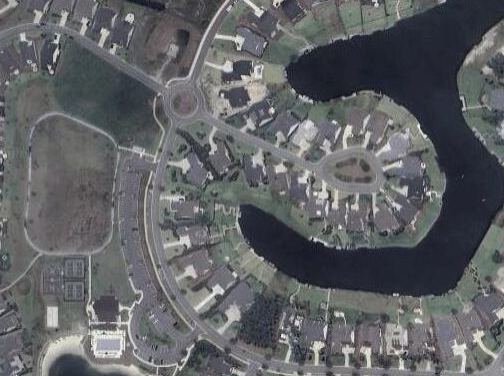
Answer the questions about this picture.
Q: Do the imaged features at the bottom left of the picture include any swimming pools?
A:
Yes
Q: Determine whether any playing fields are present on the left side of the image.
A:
Yes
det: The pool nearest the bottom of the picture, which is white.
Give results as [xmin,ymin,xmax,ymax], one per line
[95,331,125,357]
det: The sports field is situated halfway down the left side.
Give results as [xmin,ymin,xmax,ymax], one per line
[27,116,116,249]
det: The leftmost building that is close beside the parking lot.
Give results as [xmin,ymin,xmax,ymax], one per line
[92,294,120,321]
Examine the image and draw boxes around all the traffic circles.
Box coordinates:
[163,81,205,123]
